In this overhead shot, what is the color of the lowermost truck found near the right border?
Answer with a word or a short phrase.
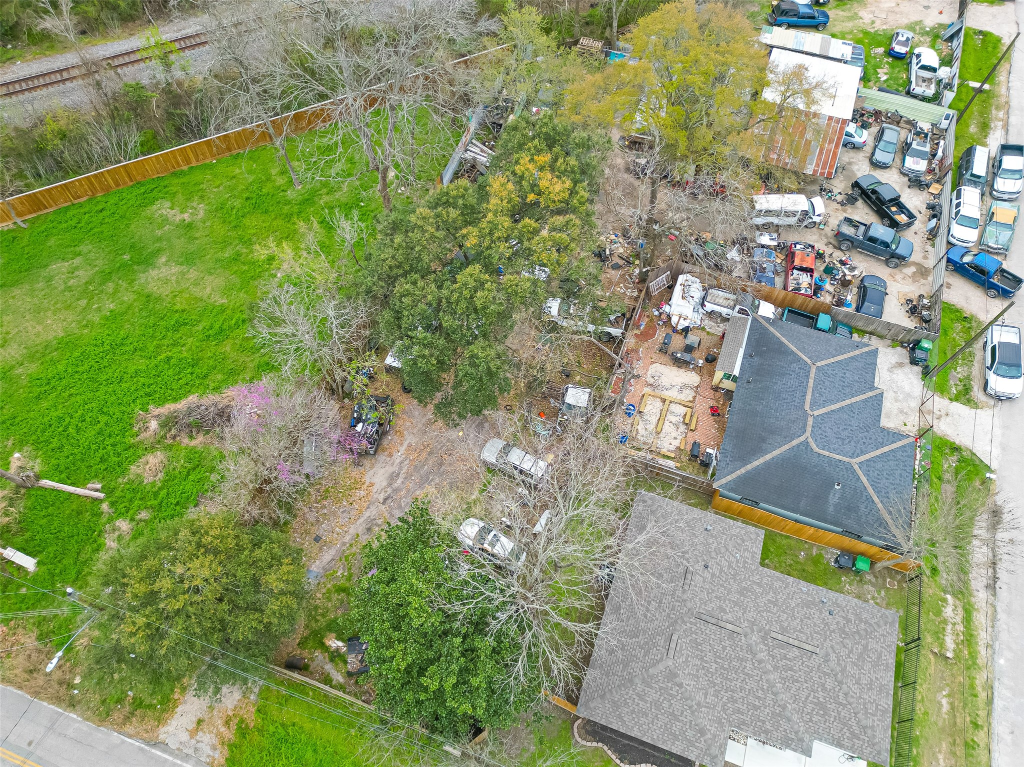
white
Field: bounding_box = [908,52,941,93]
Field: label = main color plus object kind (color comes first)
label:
white truck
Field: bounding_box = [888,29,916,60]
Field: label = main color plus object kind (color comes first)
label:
white car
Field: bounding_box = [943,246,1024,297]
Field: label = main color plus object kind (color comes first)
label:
blue truck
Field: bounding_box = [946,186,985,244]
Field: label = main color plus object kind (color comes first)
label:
white car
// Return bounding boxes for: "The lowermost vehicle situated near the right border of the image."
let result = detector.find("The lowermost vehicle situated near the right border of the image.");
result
[983,323,1024,398]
